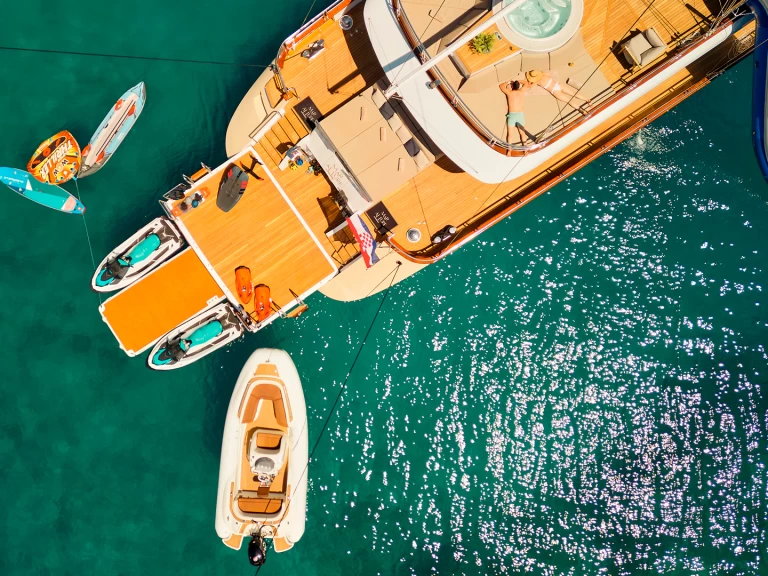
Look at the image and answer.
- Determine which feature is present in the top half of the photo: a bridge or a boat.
boat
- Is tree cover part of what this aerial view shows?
No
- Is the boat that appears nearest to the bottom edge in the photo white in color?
Yes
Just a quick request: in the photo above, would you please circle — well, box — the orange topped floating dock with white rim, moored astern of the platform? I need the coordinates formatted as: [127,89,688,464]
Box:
[100,248,222,356]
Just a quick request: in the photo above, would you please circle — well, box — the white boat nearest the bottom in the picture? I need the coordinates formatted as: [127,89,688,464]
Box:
[212,349,308,567]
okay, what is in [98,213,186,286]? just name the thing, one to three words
boat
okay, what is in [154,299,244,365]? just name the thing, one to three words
boat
